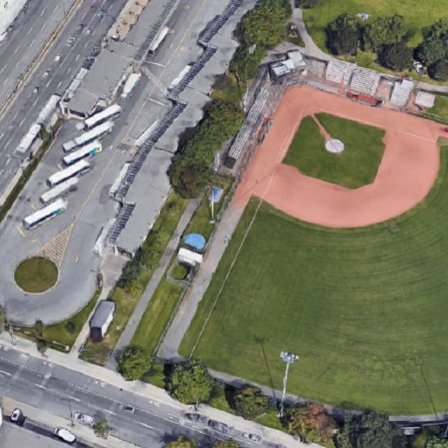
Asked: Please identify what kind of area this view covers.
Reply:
sports ground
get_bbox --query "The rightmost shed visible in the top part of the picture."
[414,89,437,109]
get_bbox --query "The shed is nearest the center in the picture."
[177,247,203,268]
